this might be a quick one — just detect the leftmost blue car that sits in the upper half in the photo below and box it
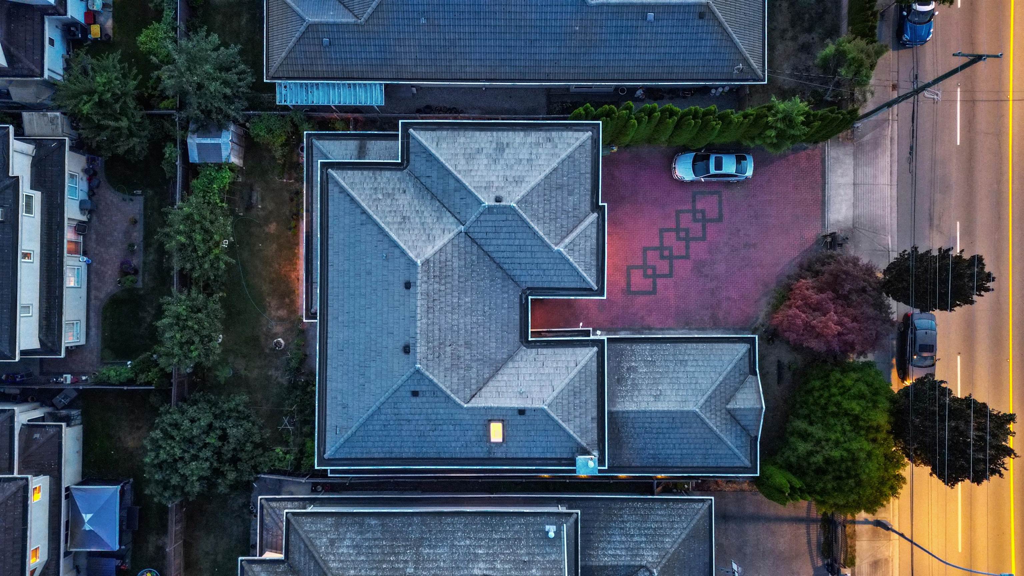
[672,146,755,184]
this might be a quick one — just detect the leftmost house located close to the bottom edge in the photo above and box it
[0,405,82,576]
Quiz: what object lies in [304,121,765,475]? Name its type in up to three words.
house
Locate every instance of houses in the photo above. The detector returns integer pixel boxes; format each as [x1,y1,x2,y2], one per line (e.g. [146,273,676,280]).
[0,0,86,81]
[264,0,767,88]
[239,489,714,576]
[304,121,765,475]
[0,125,88,360]
[0,405,82,576]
